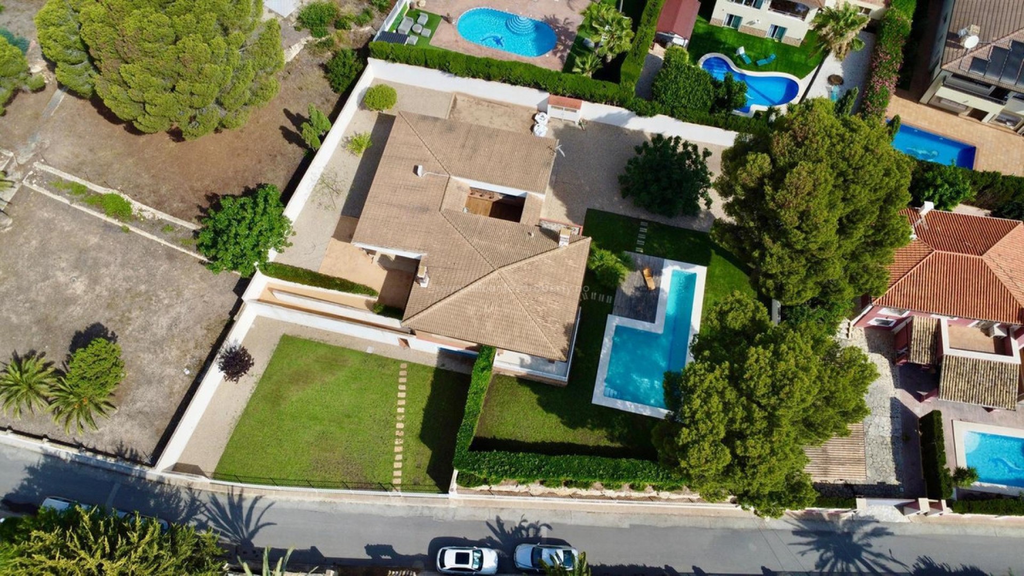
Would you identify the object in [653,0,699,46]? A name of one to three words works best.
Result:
shed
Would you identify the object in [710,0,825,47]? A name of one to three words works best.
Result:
house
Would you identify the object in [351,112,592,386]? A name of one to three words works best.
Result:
house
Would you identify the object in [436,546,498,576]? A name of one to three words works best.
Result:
car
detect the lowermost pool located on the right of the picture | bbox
[966,431,1024,488]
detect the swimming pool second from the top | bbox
[707,57,798,105]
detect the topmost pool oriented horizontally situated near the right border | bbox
[886,121,976,168]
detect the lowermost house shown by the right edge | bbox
[861,203,1024,418]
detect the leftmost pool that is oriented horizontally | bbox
[457,7,557,56]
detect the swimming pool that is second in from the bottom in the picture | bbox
[604,270,697,409]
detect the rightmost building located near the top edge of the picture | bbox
[922,0,1024,132]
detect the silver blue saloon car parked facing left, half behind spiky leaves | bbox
[515,542,578,574]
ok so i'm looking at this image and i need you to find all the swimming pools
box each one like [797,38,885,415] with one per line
[707,57,798,105]
[966,431,1024,488]
[886,121,976,168]
[604,270,697,409]
[457,7,557,56]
